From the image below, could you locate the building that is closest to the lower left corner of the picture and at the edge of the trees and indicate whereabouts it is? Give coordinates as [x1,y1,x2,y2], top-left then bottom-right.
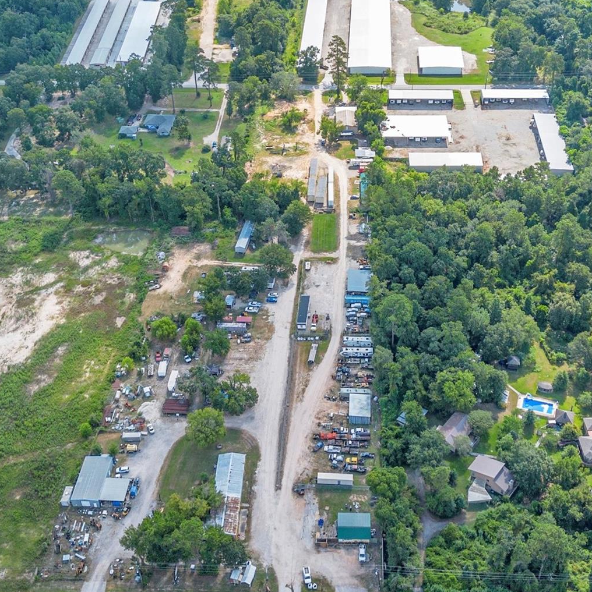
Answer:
[70,453,132,507]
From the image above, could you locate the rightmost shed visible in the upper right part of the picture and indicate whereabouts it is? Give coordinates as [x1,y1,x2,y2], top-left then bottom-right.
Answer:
[533,113,572,177]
